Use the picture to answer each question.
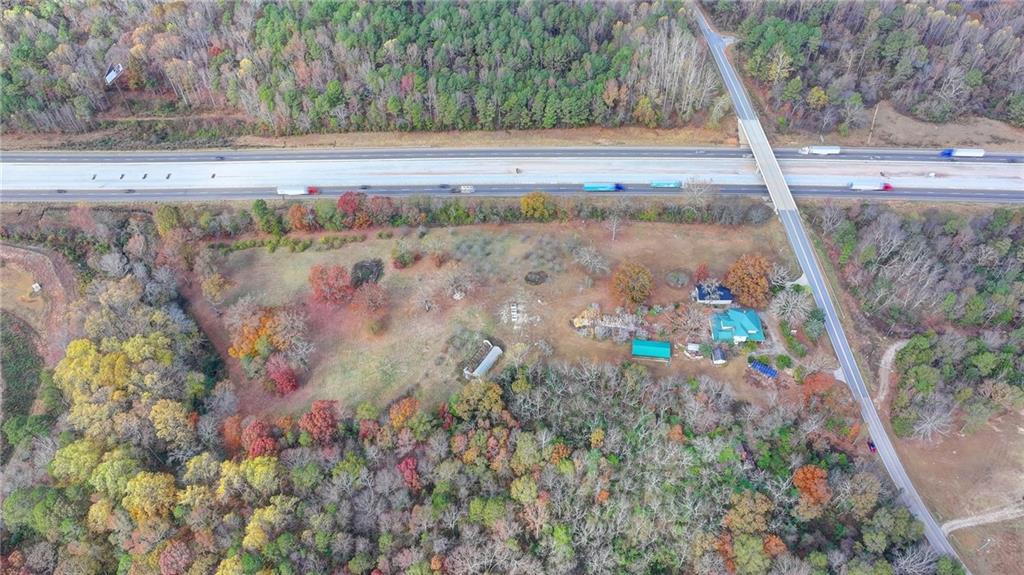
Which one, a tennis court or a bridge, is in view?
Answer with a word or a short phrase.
bridge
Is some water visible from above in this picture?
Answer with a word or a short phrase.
No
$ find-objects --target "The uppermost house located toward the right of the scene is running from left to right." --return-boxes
[698,286,734,305]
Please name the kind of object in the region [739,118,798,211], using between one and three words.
bridge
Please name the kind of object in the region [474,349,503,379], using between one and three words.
greenhouse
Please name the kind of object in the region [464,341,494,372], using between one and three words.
house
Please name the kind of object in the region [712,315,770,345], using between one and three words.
house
